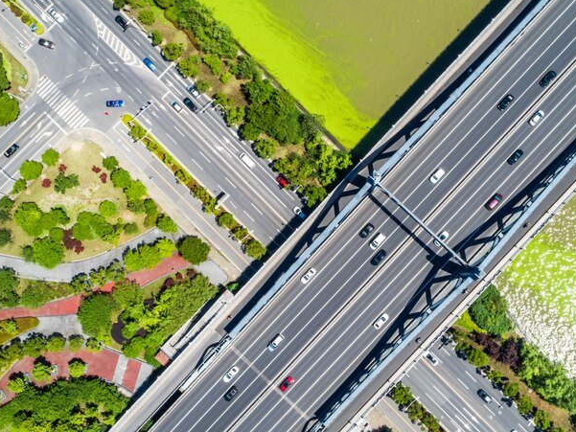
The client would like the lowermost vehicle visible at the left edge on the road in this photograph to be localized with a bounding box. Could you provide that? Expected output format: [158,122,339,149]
[3,142,21,160]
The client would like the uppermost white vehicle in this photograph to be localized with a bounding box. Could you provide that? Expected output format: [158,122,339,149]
[49,5,66,22]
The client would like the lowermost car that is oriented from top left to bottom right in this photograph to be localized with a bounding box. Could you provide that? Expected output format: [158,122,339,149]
[475,387,492,405]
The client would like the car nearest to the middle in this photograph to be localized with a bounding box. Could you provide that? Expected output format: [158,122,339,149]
[290,203,307,221]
